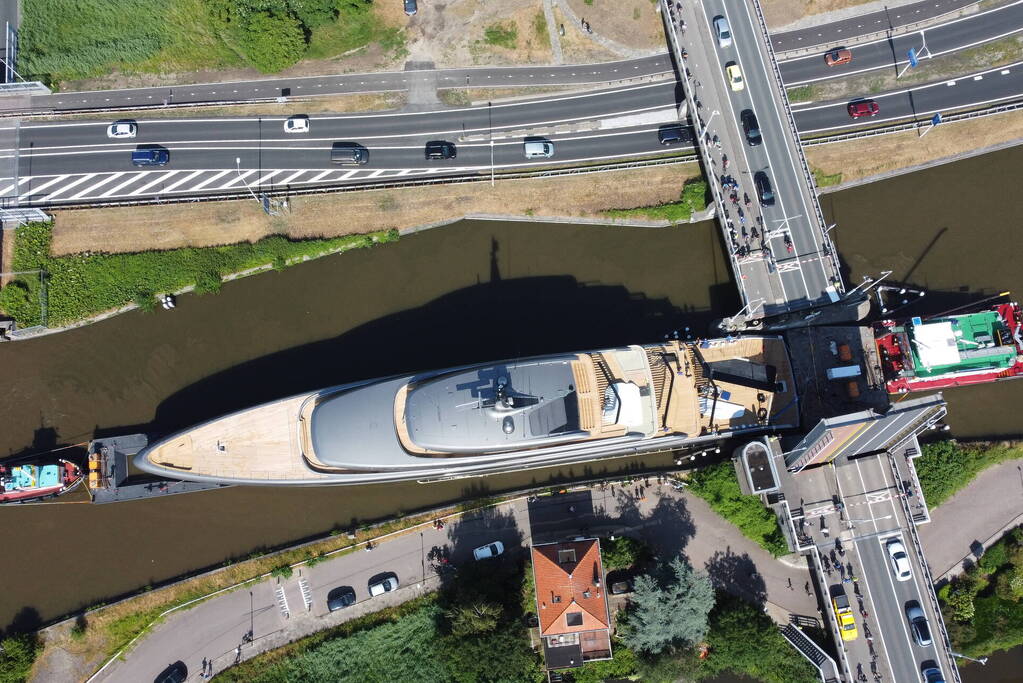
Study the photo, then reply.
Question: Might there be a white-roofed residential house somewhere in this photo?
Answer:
No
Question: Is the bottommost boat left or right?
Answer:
left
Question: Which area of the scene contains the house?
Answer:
bottom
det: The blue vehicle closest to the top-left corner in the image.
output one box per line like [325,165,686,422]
[131,147,170,166]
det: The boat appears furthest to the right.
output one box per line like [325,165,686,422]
[877,290,1023,396]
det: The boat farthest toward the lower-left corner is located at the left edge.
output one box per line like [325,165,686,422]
[0,457,89,505]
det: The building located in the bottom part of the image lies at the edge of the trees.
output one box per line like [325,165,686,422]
[530,537,610,671]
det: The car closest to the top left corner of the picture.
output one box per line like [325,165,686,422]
[107,122,139,138]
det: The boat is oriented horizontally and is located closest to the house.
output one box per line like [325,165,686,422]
[133,335,805,484]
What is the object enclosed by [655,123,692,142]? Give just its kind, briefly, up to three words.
car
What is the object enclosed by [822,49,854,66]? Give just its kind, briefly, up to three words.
car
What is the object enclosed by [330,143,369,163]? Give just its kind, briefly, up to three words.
vehicle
